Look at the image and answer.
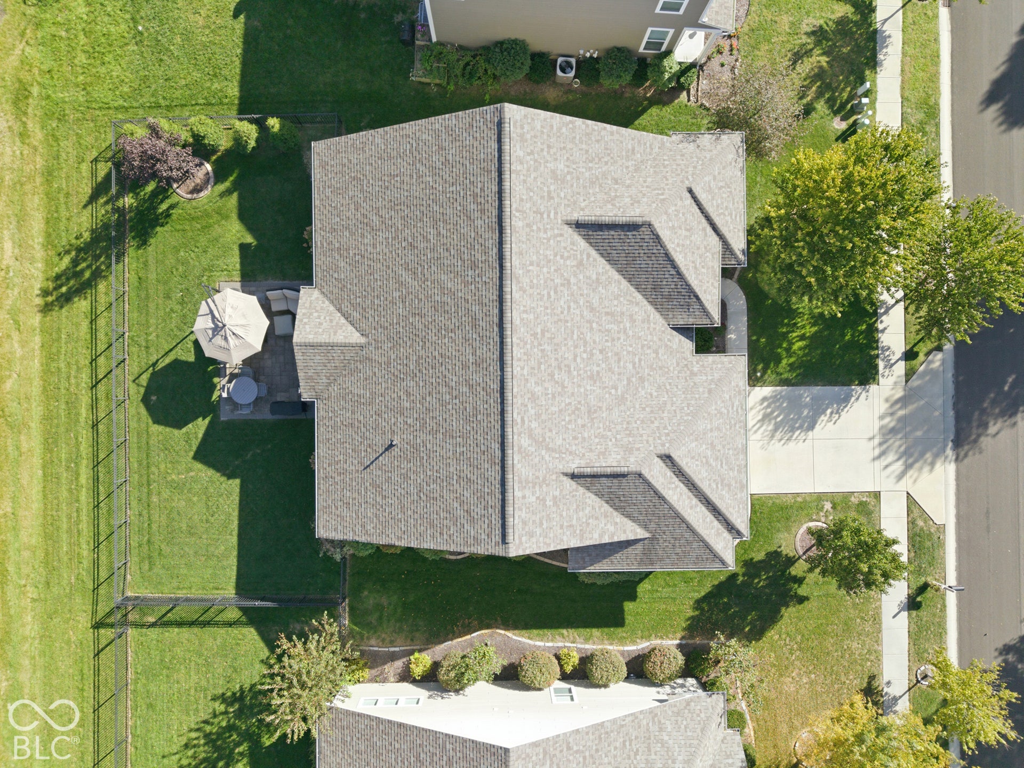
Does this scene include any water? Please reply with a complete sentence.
No, water can't be seen anywhere here.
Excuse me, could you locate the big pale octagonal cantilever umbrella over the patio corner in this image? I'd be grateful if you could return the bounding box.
[194,283,269,364]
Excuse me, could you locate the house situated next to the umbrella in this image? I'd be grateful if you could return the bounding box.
[294,105,751,573]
